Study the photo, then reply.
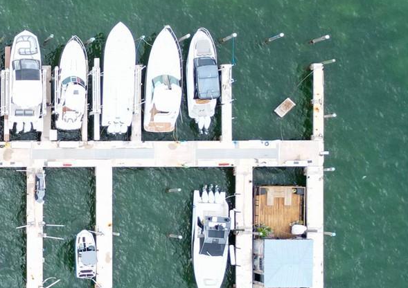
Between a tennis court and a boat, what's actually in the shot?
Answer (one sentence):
This aerial view contains a boat.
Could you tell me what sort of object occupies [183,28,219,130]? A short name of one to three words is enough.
boat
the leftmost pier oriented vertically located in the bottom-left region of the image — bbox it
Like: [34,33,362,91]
[24,168,43,288]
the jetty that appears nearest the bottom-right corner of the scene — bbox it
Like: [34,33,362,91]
[301,168,324,288]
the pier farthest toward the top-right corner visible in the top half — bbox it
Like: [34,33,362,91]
[308,64,324,140]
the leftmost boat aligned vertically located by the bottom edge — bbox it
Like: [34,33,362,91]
[75,230,97,278]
